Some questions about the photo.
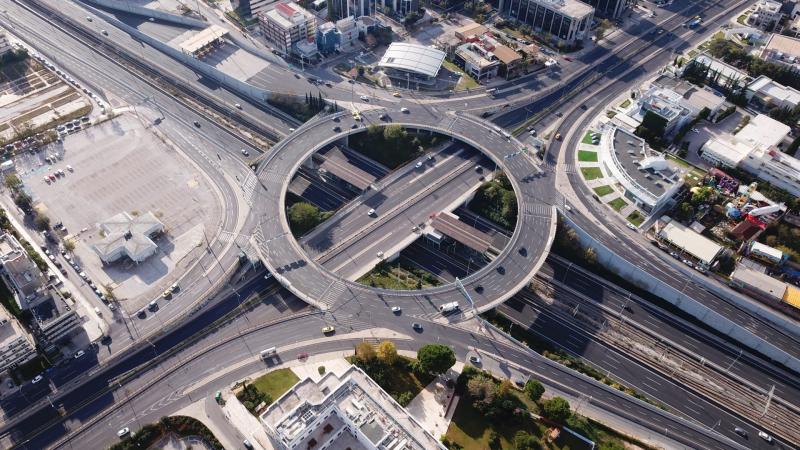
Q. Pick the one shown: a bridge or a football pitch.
bridge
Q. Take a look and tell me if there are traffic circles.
Yes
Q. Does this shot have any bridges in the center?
Yes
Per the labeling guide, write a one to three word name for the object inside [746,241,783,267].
shed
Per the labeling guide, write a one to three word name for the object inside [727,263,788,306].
shed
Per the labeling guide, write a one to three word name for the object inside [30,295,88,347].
building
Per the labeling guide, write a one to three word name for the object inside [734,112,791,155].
building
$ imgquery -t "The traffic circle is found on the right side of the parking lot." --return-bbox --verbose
[249,105,555,325]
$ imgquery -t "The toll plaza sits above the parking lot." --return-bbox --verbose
[180,23,230,59]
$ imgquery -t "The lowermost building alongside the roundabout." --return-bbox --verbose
[259,364,451,450]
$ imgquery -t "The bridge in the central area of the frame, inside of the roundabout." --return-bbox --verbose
[328,155,479,265]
